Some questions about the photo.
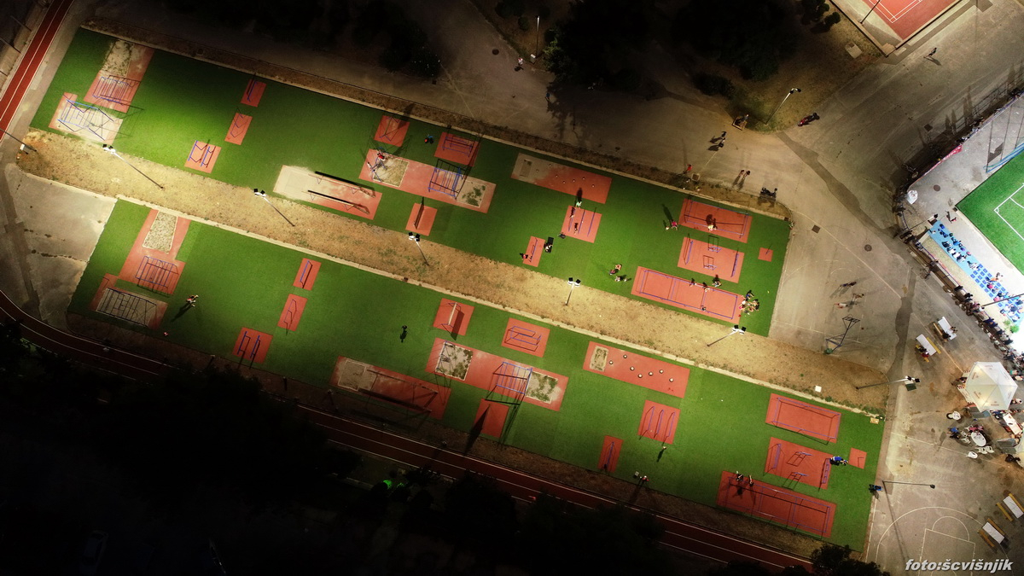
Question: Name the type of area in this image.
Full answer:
It's a sports ground.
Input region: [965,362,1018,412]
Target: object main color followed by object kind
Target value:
white umbrella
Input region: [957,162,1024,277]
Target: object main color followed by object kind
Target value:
green soccer field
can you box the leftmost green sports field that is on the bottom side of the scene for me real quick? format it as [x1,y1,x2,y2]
[66,195,886,553]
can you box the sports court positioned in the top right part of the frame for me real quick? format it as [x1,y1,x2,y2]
[828,0,963,58]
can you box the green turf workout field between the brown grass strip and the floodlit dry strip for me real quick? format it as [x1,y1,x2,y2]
[29,26,791,336]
